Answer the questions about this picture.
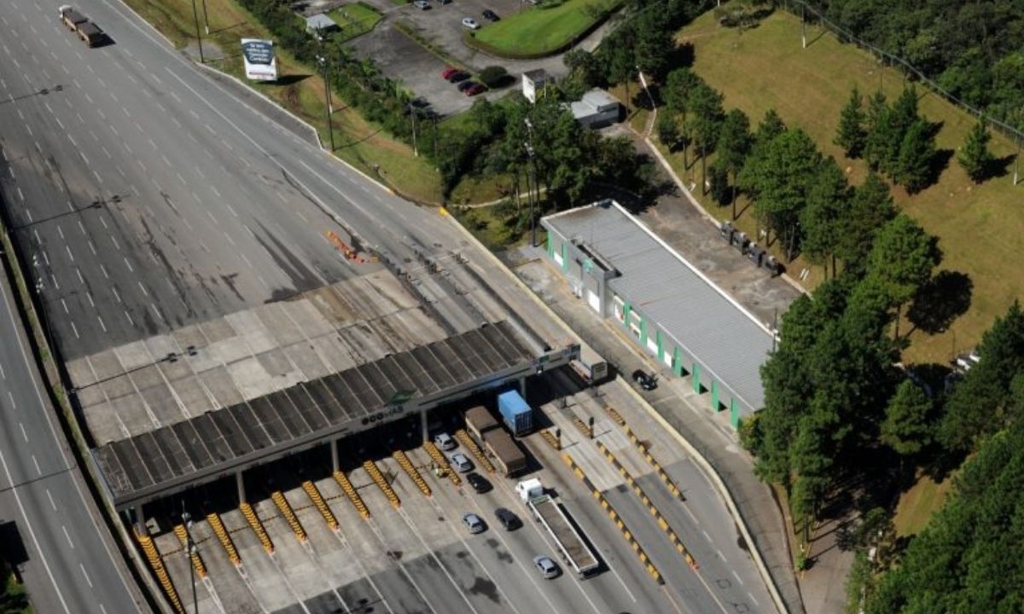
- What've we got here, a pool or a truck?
truck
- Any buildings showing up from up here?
Yes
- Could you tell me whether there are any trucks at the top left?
Yes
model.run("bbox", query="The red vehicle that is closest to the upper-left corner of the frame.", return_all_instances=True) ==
[442,69,465,81]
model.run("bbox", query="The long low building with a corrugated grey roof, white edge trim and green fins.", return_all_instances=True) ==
[541,195,784,426]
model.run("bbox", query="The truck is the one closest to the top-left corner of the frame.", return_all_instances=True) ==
[61,7,104,53]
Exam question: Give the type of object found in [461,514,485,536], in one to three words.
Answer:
car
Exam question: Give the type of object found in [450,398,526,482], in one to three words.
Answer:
truck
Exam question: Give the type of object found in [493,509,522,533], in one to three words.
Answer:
car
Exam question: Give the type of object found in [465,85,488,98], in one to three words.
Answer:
vehicle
